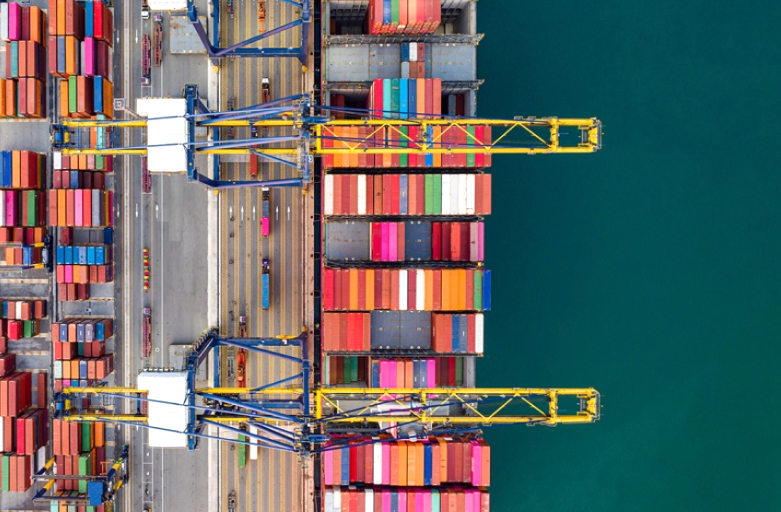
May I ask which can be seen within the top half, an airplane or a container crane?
container crane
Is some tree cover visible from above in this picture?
No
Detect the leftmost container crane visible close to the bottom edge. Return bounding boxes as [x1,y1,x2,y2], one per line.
[27,449,127,508]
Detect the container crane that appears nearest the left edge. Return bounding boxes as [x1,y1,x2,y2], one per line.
[0,231,53,270]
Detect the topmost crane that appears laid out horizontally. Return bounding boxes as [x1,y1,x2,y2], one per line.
[144,0,313,65]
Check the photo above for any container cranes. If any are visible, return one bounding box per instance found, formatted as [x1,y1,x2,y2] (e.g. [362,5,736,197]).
[0,231,53,270]
[144,0,313,65]
[27,449,127,508]
[47,87,608,192]
[47,330,607,460]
